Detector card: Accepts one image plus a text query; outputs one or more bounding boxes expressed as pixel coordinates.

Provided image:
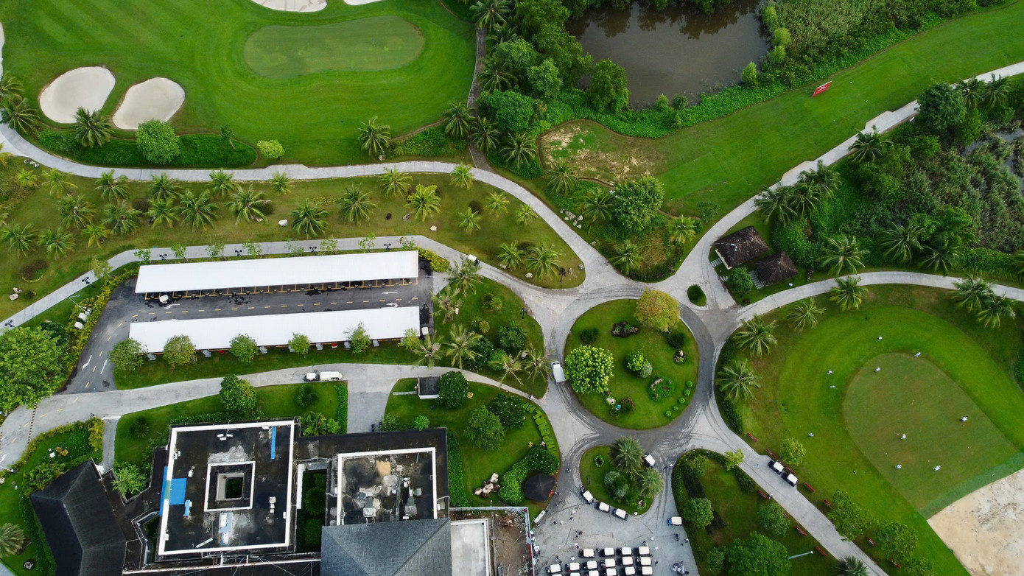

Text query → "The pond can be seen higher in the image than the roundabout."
[553,4,770,109]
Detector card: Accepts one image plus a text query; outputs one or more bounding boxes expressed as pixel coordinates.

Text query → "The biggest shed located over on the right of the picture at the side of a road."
[712,225,770,271]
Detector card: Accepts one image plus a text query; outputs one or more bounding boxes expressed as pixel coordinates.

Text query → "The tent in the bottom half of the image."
[524,473,555,501]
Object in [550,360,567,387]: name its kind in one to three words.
vehicle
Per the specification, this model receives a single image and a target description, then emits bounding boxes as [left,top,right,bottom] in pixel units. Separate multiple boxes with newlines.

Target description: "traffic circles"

[550,288,712,474]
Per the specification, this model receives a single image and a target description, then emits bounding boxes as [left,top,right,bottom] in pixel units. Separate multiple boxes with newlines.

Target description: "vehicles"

[610,508,627,521]
[637,567,654,575]
[599,548,616,557]
[600,559,617,568]
[318,370,345,383]
[422,327,430,341]
[767,461,785,474]
[467,254,479,268]
[619,567,636,576]
[546,564,563,573]
[565,562,582,571]
[579,549,596,558]
[780,473,798,487]
[594,502,611,514]
[666,517,683,526]
[550,360,567,387]
[582,561,599,570]
[579,490,593,505]
[601,568,618,576]
[160,294,173,309]
[584,570,601,576]
[566,571,582,576]
[635,557,652,566]
[641,454,656,468]
[634,546,651,556]
[616,547,633,556]
[304,374,318,384]
[617,557,634,566]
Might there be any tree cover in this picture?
Yes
